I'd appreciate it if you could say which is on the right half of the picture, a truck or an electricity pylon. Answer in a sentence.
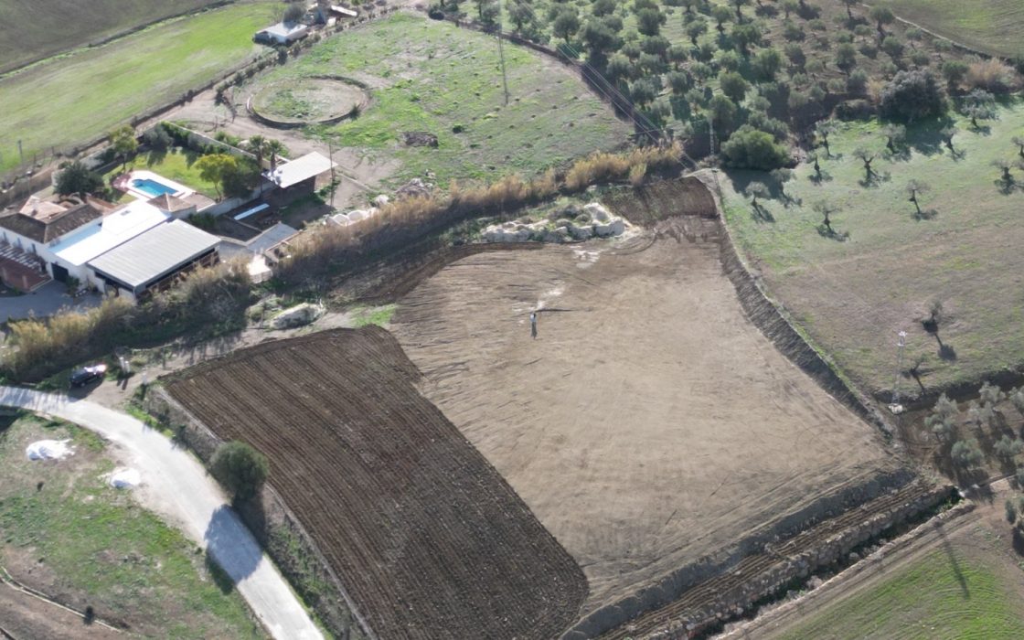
The one visible on the right half of the picture is an electricity pylon.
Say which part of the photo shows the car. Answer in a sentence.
The car sits in the left section of the image.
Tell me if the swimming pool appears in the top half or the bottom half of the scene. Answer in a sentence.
The top half of the photo is where the swimming pool is.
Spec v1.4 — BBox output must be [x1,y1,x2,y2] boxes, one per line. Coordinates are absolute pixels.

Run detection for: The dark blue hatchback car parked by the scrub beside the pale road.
[66,364,108,388]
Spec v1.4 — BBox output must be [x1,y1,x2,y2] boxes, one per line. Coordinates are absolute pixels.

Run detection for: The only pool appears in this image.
[116,169,197,201]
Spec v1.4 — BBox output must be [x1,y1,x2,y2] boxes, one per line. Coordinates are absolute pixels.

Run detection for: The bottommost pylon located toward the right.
[890,325,918,421]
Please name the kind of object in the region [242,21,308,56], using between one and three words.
barn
